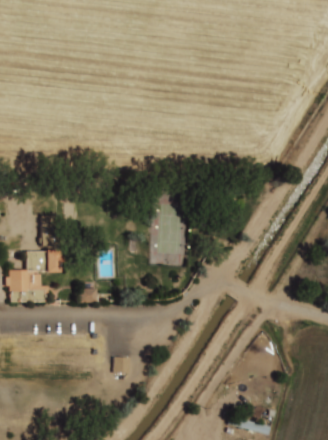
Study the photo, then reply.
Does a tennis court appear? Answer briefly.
Yes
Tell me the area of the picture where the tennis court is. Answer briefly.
center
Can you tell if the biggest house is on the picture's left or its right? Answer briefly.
left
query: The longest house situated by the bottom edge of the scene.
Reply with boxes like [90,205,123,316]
[233,420,272,435]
